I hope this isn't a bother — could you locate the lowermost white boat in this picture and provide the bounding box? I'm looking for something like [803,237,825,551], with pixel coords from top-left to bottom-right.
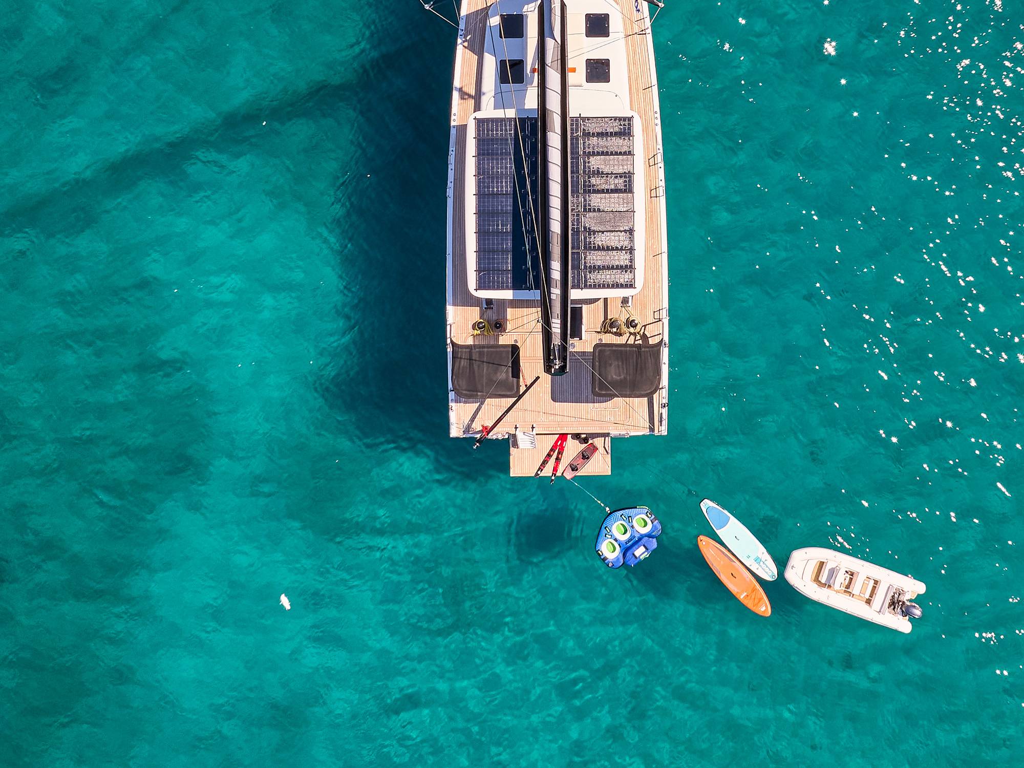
[785,547,930,634]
